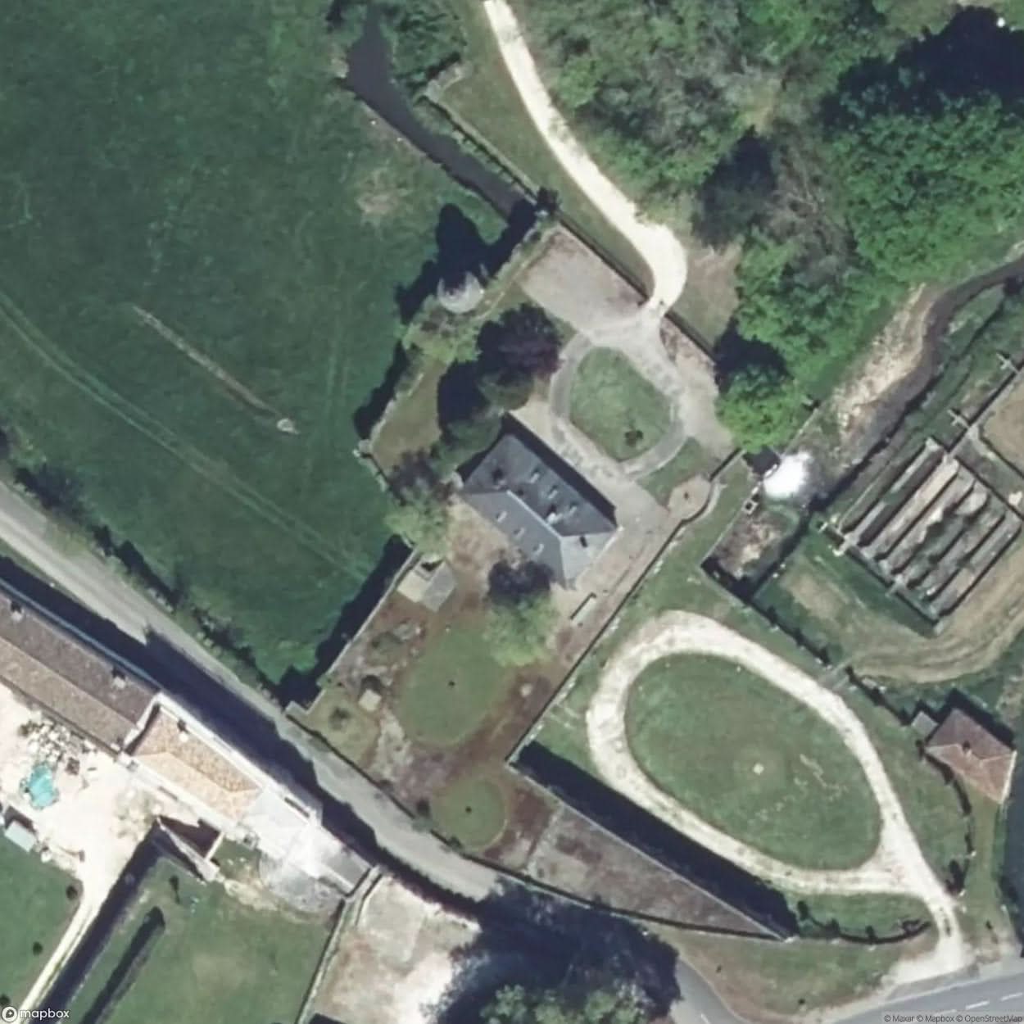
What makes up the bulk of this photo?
grass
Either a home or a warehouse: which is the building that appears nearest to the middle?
home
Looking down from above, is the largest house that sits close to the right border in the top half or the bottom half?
bottom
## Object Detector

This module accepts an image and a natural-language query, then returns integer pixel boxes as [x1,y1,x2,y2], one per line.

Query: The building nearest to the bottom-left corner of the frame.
[7,821,41,851]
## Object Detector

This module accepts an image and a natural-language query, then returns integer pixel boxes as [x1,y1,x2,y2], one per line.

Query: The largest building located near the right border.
[925,708,1021,805]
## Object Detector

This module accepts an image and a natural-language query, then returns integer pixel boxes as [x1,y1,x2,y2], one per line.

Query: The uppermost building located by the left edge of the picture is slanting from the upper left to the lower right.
[0,579,164,758]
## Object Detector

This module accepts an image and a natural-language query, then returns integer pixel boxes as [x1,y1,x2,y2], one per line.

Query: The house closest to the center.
[460,432,620,584]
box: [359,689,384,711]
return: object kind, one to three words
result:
shed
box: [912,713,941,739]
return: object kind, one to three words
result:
shed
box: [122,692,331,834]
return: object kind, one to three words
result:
house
